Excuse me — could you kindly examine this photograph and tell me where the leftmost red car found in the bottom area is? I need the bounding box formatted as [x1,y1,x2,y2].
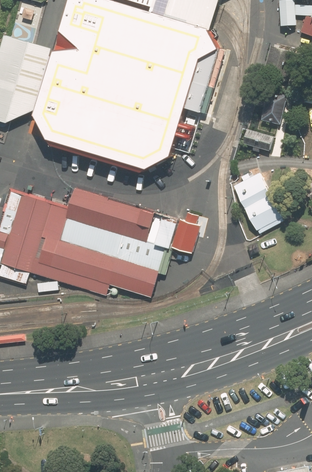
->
[197,398,212,414]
